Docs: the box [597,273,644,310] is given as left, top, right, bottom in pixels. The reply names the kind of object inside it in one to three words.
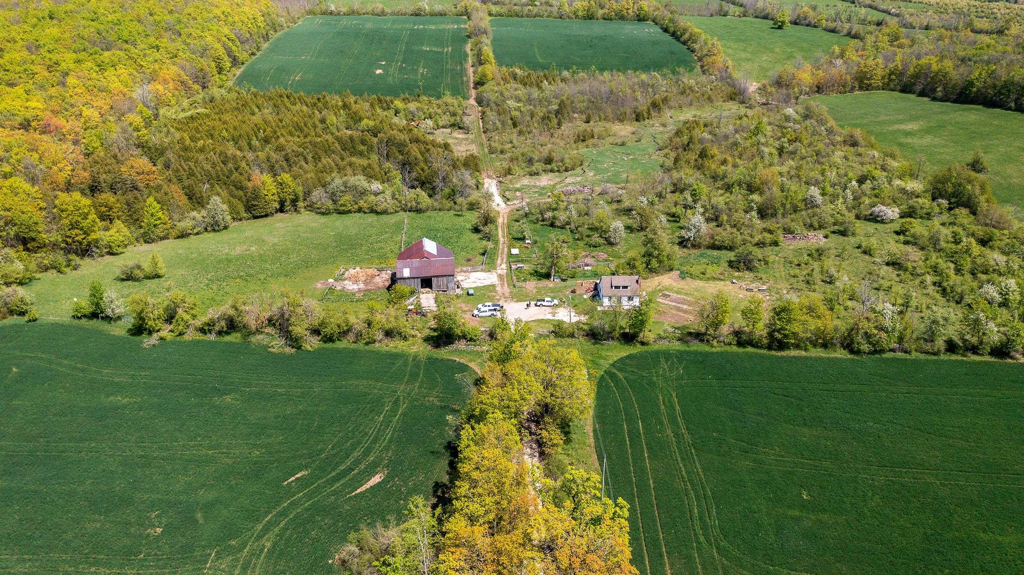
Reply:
house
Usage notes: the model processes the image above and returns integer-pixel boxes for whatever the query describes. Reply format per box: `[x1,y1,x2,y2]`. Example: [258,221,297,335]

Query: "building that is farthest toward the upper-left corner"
[395,237,456,293]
